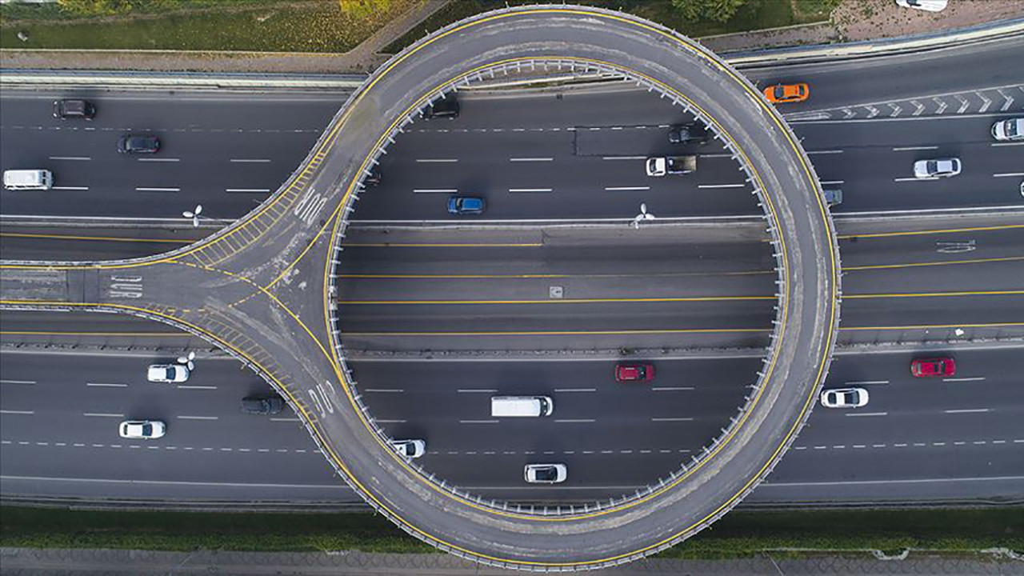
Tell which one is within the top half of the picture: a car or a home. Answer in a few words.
car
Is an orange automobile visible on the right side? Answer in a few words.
Yes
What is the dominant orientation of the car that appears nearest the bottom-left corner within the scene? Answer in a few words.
horizontally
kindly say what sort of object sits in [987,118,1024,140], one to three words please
car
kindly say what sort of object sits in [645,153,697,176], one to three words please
truck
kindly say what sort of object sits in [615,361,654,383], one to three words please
car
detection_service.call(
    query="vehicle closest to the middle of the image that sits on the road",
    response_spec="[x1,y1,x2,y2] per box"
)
[447,195,485,217]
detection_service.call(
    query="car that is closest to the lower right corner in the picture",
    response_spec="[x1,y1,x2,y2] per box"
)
[908,356,954,378]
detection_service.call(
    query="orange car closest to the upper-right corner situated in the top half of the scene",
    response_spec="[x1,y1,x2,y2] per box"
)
[763,83,809,105]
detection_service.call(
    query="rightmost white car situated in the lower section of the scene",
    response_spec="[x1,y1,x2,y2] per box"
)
[819,386,868,409]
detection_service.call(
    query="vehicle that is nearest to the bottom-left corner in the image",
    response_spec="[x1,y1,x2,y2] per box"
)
[119,419,168,441]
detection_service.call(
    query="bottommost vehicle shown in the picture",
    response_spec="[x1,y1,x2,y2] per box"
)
[524,462,566,486]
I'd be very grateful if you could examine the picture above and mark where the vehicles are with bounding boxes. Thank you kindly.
[668,122,711,146]
[54,98,98,121]
[420,98,459,118]
[615,361,654,383]
[763,83,809,105]
[895,0,948,13]
[119,419,168,441]
[5,167,56,191]
[394,438,426,458]
[645,153,697,176]
[908,356,954,378]
[361,166,381,186]
[987,118,1024,140]
[146,363,191,385]
[491,395,553,419]
[524,462,566,486]
[819,386,868,409]
[241,394,286,417]
[825,187,843,206]
[911,157,960,180]
[447,195,485,217]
